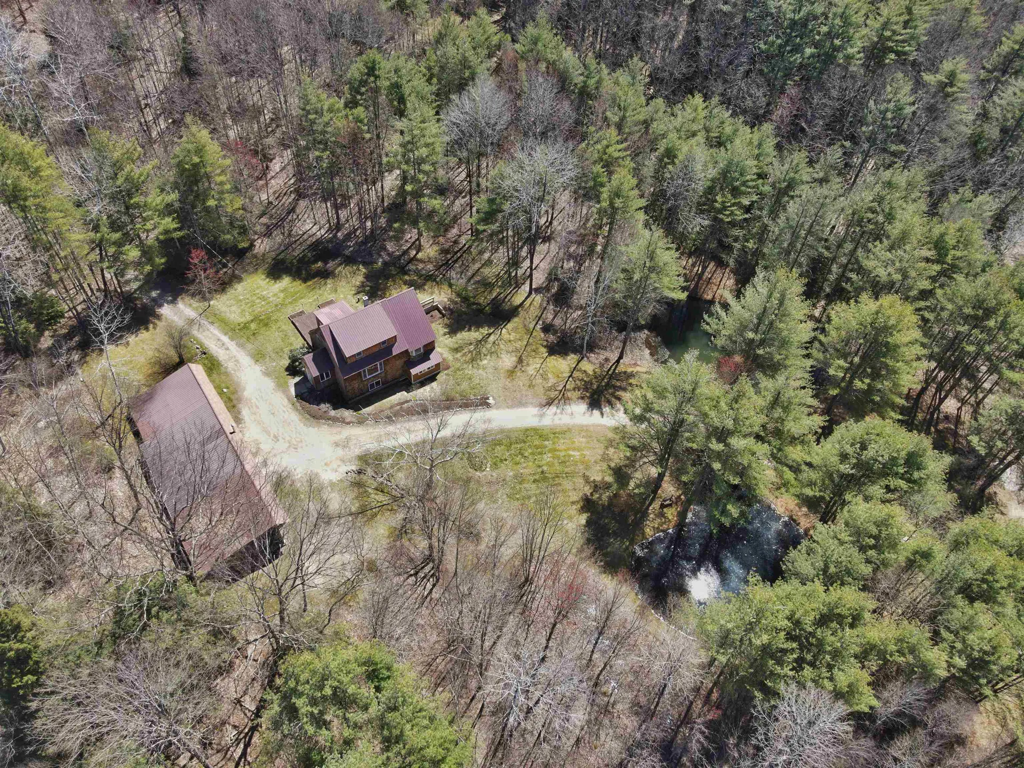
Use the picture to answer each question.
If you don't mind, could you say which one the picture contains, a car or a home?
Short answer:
home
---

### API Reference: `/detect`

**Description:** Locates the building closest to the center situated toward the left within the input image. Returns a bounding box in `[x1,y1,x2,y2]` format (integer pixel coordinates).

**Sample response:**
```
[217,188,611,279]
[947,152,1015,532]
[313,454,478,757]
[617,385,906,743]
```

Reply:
[289,286,443,402]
